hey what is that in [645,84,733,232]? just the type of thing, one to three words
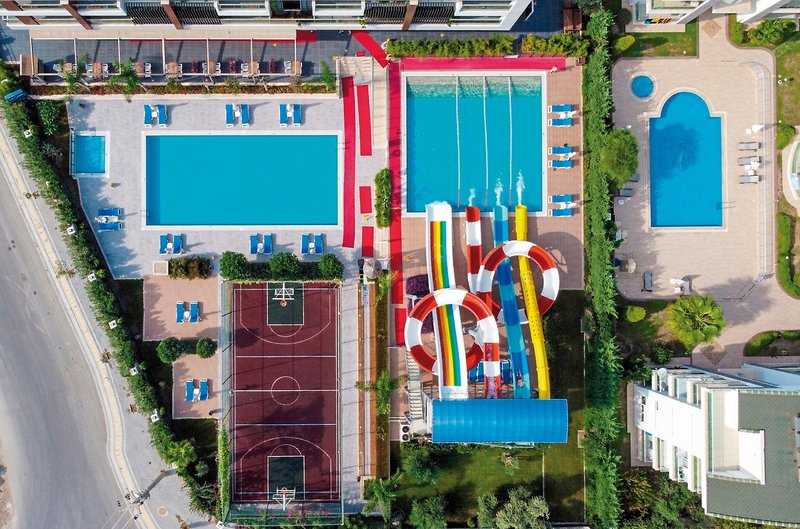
swimming pool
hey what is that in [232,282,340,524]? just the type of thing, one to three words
basketball court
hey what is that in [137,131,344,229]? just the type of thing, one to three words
swimming pool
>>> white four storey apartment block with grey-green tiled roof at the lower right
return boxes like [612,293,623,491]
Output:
[634,355,800,529]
